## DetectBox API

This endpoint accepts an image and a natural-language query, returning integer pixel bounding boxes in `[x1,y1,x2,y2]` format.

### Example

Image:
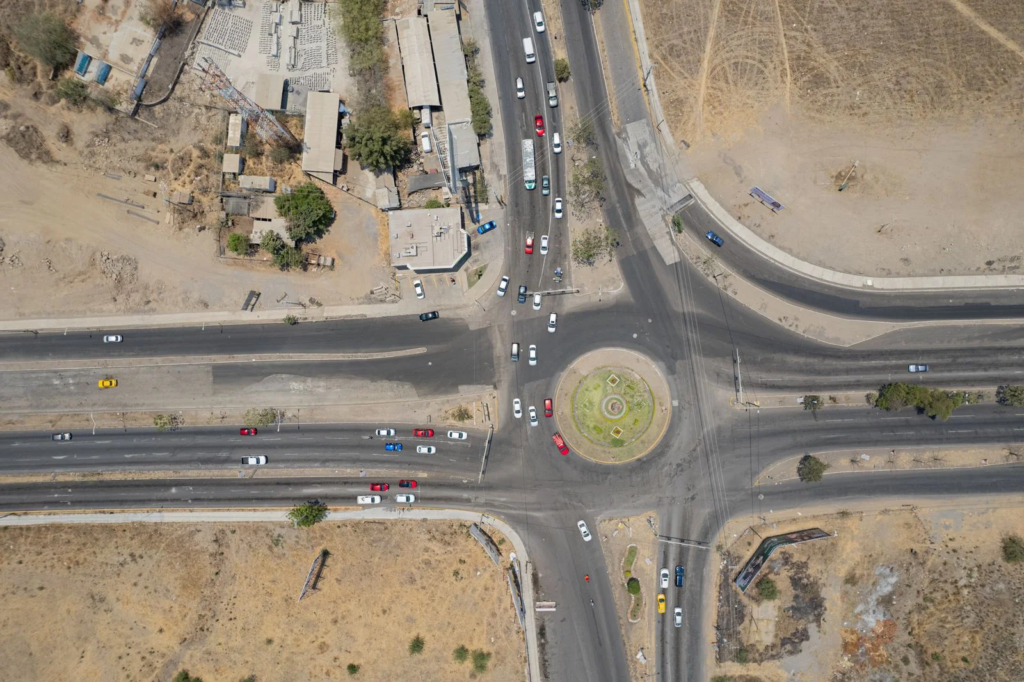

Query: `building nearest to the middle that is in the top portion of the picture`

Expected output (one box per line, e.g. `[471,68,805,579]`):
[388,207,470,271]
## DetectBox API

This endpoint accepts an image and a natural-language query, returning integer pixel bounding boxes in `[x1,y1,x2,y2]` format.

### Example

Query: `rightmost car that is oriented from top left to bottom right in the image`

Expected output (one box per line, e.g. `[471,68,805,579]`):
[705,232,725,247]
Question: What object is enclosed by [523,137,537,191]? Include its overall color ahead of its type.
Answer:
white vehicle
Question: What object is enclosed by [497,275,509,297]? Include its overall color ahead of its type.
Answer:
white vehicle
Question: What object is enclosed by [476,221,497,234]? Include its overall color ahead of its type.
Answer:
blue vehicle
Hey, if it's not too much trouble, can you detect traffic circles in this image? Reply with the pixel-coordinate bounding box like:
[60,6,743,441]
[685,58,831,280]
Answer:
[555,348,671,464]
